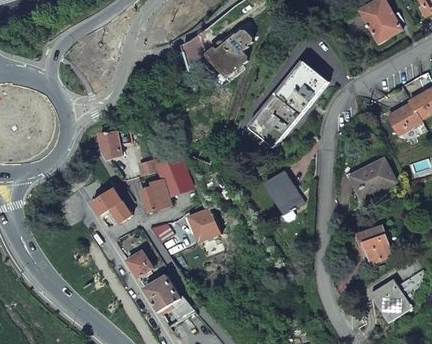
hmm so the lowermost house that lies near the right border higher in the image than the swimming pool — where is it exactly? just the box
[388,88,432,144]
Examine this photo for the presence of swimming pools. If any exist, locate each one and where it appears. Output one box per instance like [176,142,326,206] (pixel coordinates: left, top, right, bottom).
[410,158,432,178]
